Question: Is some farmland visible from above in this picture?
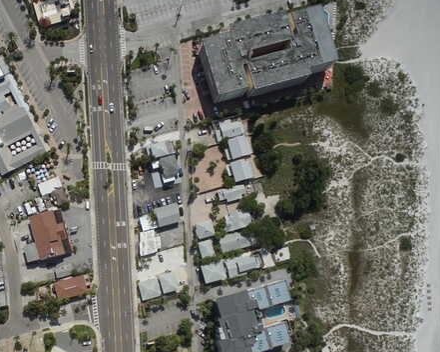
No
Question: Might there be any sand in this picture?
Yes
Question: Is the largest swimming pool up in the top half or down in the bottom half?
bottom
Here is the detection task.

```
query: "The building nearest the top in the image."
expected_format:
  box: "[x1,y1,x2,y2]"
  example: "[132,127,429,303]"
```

[35,0,70,27]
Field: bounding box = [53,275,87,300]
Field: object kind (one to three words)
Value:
building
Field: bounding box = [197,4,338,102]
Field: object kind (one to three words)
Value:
building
